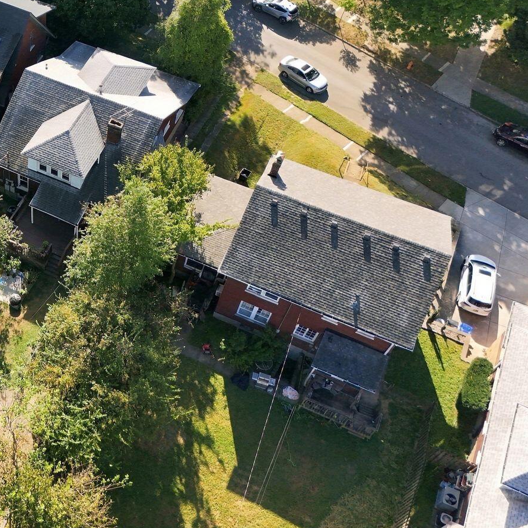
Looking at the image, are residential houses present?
Yes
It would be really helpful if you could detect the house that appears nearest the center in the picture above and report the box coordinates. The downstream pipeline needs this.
[177,149,452,409]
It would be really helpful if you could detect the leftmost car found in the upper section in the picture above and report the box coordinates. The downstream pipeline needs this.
[253,0,305,22]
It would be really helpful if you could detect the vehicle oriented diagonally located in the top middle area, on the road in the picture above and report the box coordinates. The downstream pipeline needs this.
[279,52,334,93]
